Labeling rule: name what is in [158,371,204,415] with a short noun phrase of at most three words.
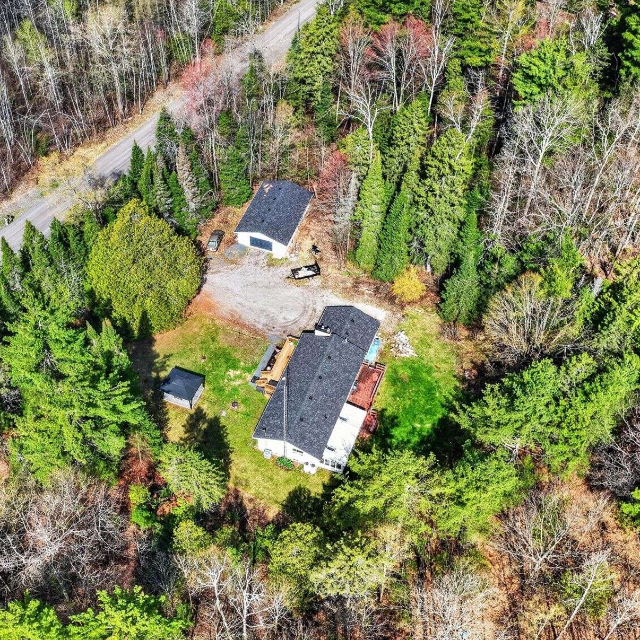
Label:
gazebo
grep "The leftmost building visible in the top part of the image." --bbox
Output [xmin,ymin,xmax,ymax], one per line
[235,178,317,260]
